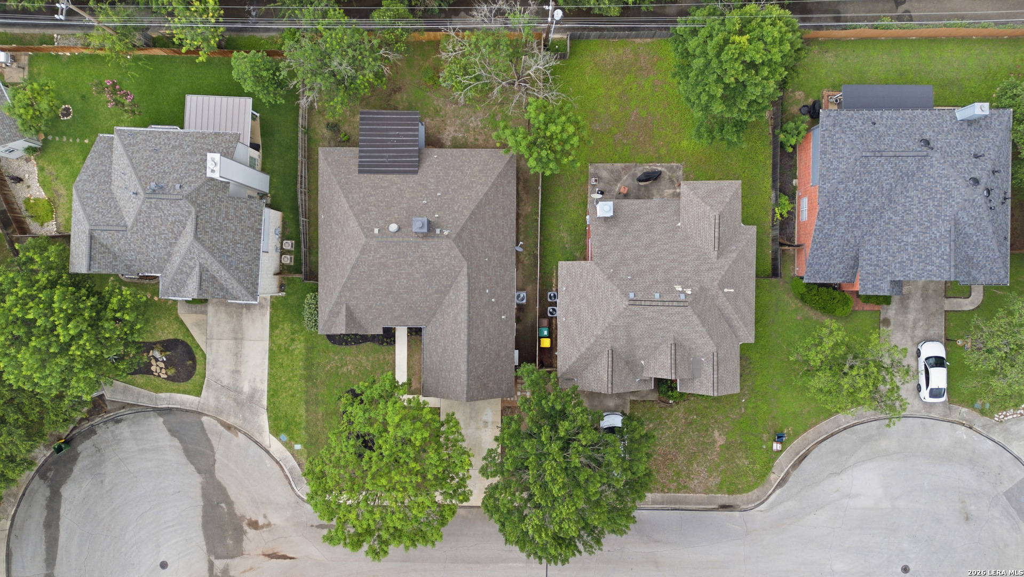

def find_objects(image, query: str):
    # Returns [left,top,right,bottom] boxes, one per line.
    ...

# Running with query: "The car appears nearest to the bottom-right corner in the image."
[915,340,949,402]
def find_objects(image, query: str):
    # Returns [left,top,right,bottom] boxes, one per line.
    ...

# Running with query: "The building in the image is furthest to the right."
[796,102,1013,295]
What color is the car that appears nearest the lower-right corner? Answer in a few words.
white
